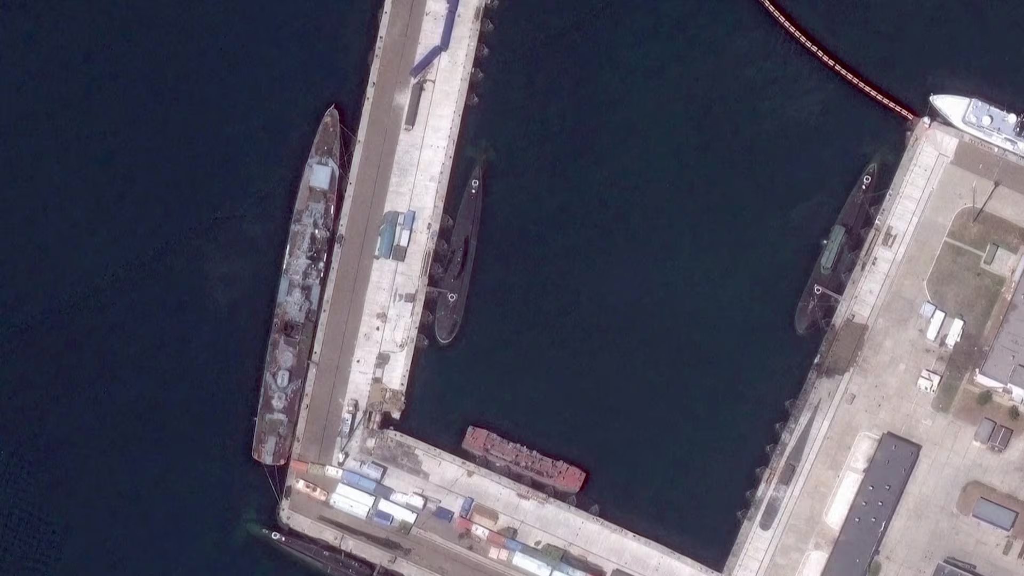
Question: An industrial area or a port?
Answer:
port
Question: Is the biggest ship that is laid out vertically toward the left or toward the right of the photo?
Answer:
left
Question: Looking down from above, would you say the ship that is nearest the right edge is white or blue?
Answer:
white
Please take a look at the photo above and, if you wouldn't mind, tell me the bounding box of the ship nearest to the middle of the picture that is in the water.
[436,167,480,345]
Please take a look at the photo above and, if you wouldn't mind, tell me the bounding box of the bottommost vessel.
[260,528,391,576]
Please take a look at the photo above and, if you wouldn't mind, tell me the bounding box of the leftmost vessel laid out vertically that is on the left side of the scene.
[252,103,340,466]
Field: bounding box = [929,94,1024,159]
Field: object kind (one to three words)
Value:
ship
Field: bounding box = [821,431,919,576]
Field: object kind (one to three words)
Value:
building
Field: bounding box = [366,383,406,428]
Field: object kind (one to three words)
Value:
shed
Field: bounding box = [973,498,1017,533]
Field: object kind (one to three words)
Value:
house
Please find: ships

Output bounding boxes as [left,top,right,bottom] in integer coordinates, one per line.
[260,528,391,576]
[929,94,1024,159]
[463,425,586,493]
[795,165,875,336]
[436,167,480,345]
[252,103,340,466]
